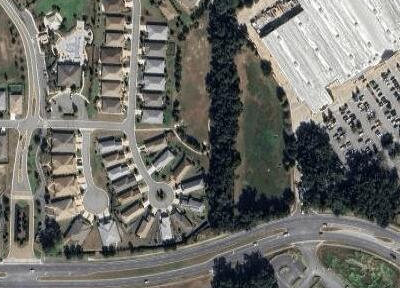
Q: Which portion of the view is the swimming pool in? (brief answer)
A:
top left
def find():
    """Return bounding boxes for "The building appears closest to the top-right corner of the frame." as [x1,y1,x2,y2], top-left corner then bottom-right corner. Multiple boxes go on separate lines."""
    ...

[262,0,400,113]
